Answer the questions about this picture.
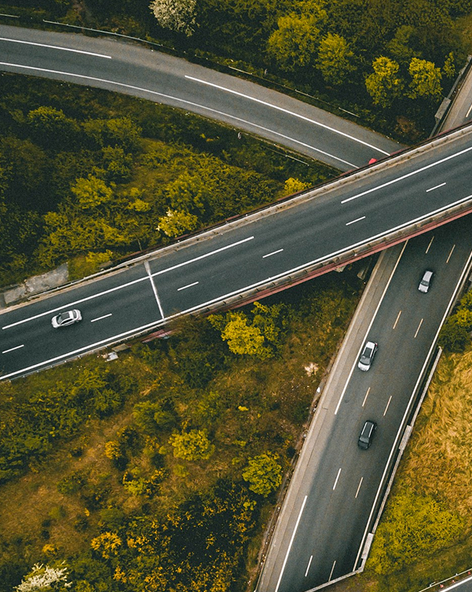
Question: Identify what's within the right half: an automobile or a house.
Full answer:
Visible within the right half is an automobile.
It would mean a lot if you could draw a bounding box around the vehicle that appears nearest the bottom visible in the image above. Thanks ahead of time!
[355,420,375,450]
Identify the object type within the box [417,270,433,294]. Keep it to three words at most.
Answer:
car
